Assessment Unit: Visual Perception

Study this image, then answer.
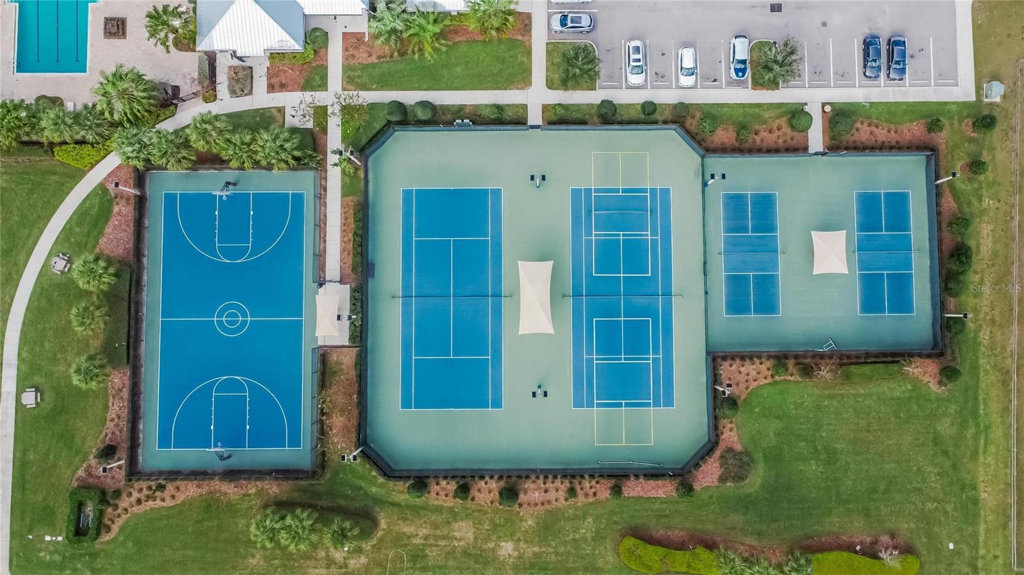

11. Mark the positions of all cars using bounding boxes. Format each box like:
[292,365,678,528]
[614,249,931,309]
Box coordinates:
[625,40,647,86]
[885,36,910,81]
[677,47,699,88]
[729,35,751,80]
[550,11,593,34]
[861,35,885,78]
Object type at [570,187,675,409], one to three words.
tennis court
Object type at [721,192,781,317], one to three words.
sports court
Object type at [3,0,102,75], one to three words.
swimming pool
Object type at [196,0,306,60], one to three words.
building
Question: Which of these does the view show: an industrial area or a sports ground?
sports ground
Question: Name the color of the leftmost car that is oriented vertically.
white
